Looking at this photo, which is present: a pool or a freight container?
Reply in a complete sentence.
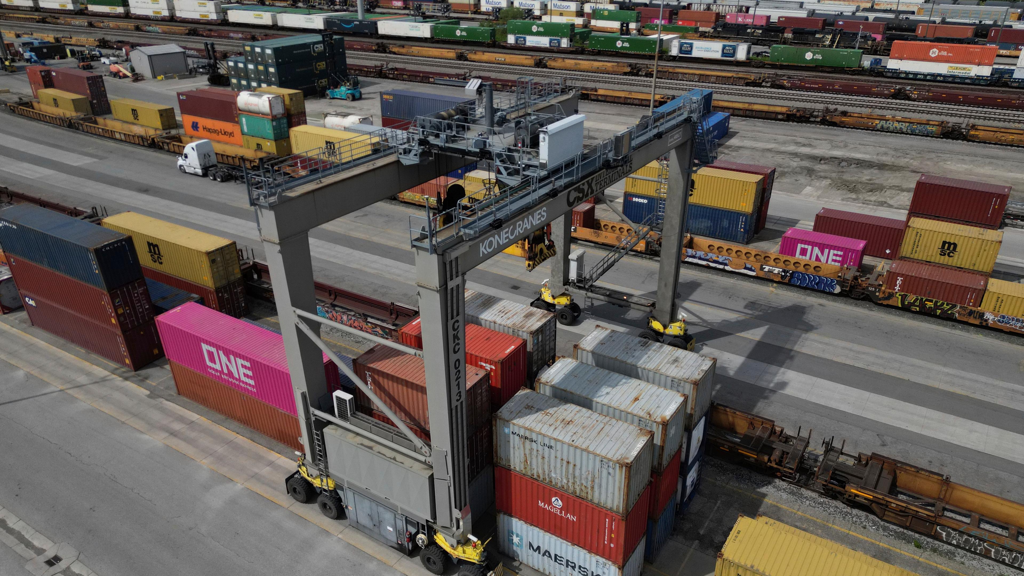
Of the two, only a freight container appears.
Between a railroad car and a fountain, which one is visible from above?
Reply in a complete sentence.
This aerial view contains a railroad car.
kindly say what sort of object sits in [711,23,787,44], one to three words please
rail car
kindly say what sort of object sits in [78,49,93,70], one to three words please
work vehicle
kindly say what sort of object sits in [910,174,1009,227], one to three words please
shipping container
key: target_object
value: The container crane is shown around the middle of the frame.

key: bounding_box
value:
[221,69,728,576]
